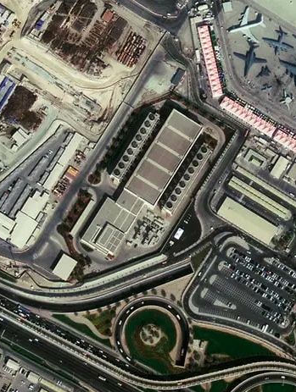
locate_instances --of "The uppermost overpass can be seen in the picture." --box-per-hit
[0,259,164,295]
